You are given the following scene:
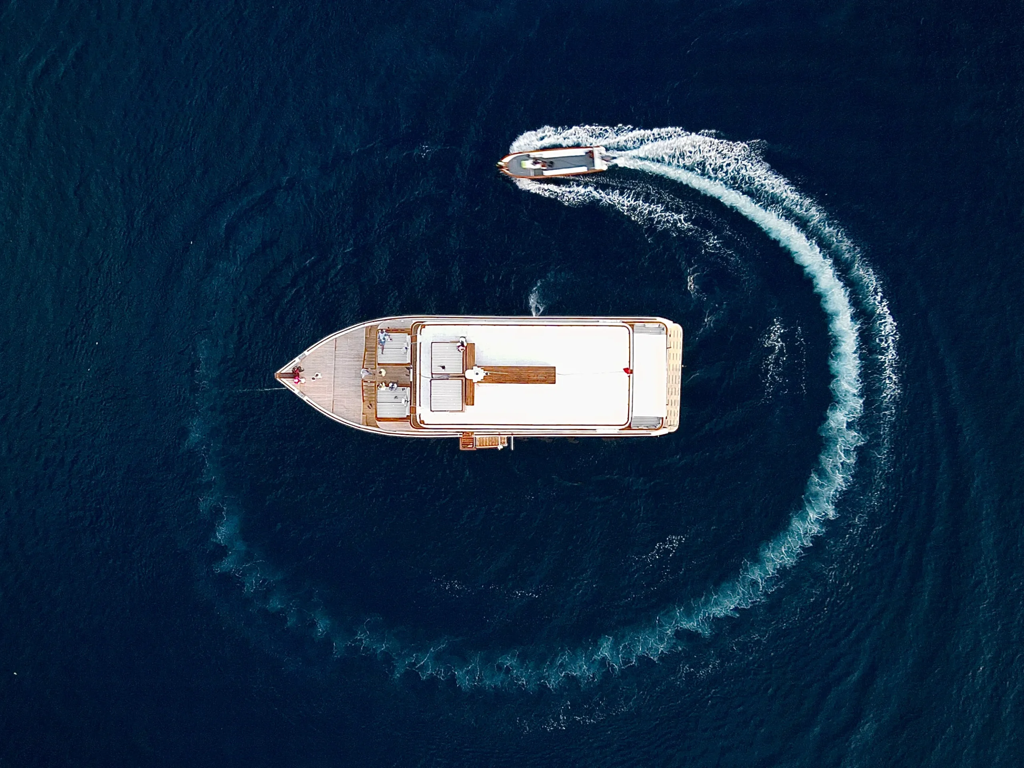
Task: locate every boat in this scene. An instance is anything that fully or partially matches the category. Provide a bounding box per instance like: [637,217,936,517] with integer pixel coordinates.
[275,316,683,450]
[497,146,615,179]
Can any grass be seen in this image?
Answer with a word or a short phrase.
No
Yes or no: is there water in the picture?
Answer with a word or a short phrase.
Yes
